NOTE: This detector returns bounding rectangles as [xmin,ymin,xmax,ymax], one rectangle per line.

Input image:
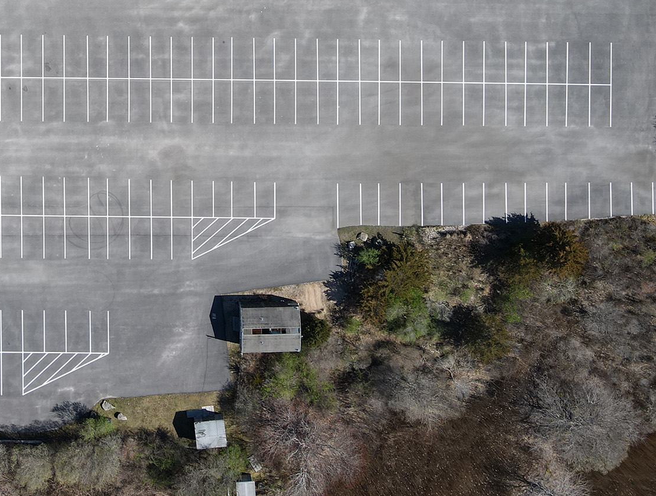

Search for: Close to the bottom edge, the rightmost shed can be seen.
[234,471,256,496]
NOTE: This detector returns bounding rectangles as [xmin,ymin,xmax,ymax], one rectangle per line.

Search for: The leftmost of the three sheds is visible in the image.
[194,401,226,449]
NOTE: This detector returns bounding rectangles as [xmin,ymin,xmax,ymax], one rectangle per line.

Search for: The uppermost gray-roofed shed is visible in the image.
[240,301,302,363]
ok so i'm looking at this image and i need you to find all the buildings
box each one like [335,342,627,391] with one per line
[240,301,302,363]
[234,471,256,496]
[194,401,226,449]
